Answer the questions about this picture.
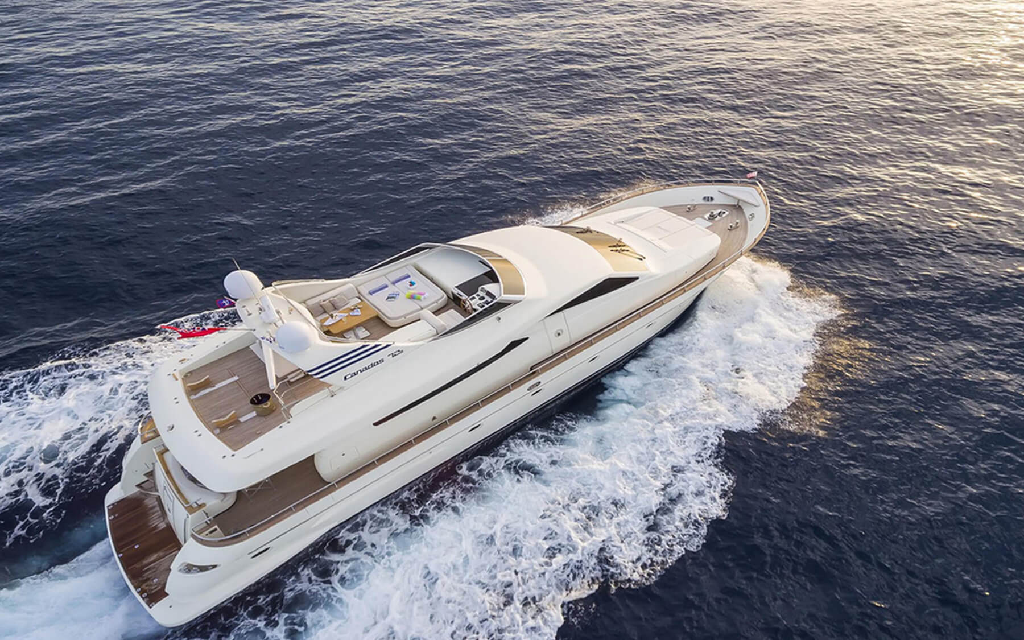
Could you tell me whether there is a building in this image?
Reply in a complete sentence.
No, no building is visible in the scene.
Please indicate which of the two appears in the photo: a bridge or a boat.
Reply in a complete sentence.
The one in the frame is a boat.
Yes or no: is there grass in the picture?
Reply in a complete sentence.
No, there is no grass in the image.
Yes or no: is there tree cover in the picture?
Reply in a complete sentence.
No, the scene doesn't show any tree cover.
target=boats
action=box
[104,175,770,629]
